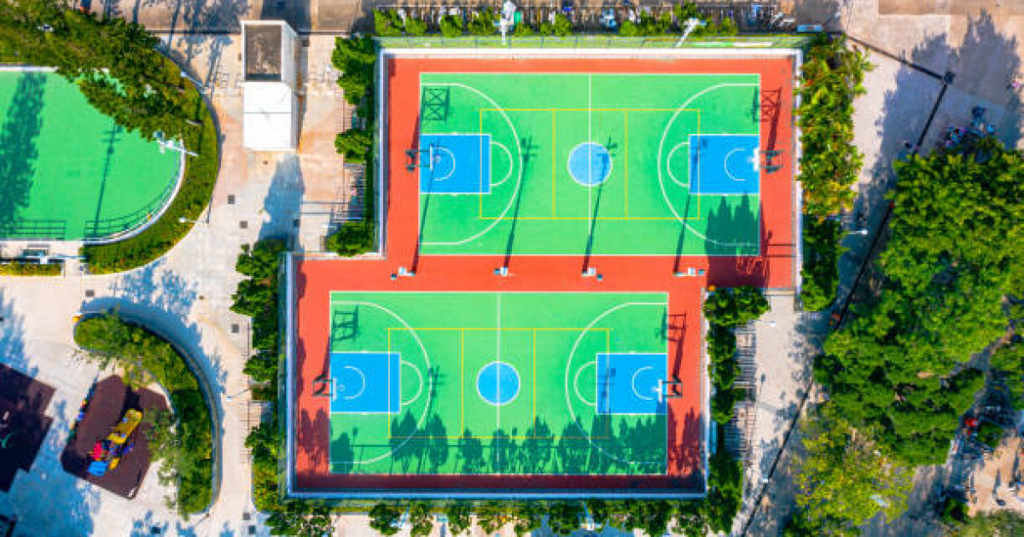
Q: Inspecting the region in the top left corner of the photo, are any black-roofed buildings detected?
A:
No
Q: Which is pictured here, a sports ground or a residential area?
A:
sports ground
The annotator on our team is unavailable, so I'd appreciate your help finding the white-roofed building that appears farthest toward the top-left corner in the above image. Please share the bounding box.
[241,20,299,155]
